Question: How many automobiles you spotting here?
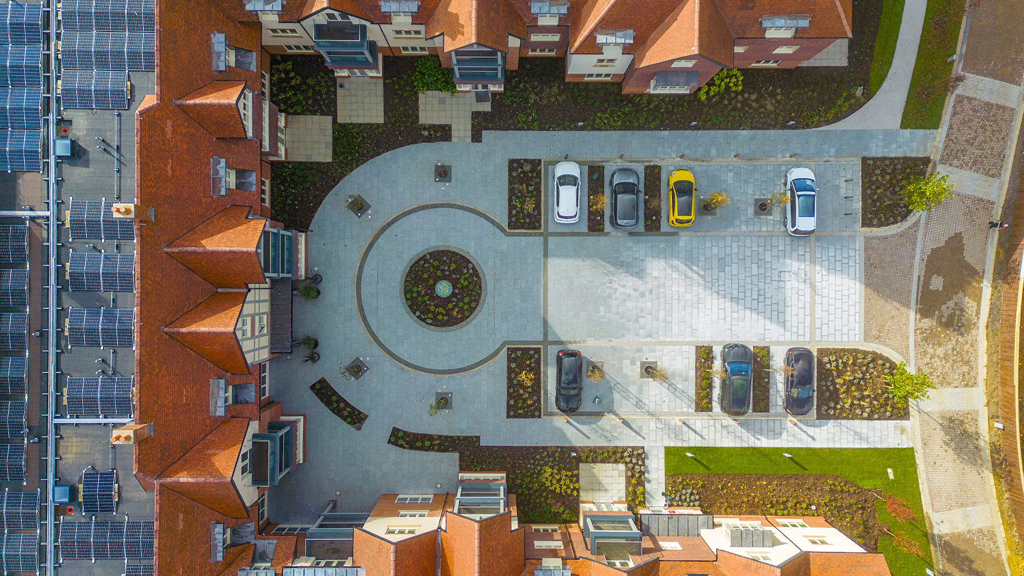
7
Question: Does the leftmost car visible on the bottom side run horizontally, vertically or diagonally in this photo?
vertically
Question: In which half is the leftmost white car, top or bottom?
top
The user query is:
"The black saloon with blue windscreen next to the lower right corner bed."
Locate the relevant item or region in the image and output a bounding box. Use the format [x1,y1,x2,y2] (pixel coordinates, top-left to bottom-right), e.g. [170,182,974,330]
[780,347,819,415]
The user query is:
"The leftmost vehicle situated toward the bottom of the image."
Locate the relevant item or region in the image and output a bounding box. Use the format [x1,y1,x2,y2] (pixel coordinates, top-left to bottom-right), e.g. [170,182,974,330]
[553,349,585,411]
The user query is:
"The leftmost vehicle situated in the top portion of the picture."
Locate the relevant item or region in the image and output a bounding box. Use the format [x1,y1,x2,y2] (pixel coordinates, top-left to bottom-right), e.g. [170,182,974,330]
[551,162,584,223]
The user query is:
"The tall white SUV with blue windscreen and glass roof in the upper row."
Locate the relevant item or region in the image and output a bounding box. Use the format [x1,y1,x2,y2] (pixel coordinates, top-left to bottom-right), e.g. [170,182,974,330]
[780,167,820,236]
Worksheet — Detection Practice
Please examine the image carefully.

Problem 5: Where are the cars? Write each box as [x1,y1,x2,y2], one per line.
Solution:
[608,169,642,230]
[666,170,699,227]
[551,162,584,223]
[716,343,757,415]
[780,347,819,415]
[553,349,585,411]
[780,167,820,236]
